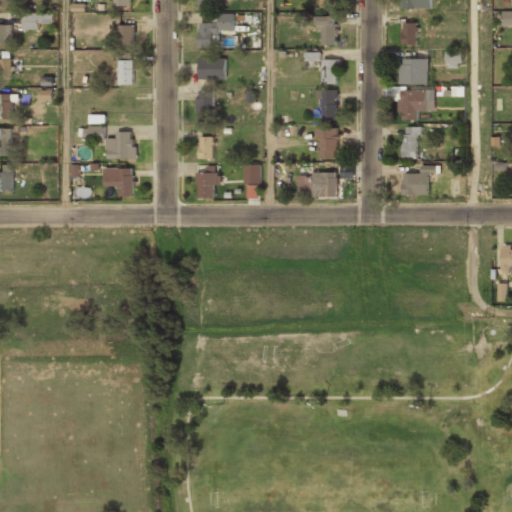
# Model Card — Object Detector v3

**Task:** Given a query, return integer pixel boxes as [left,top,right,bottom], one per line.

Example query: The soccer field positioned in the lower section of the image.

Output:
[214,428,434,512]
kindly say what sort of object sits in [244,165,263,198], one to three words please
building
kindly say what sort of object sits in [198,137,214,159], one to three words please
house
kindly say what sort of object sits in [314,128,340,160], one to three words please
house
